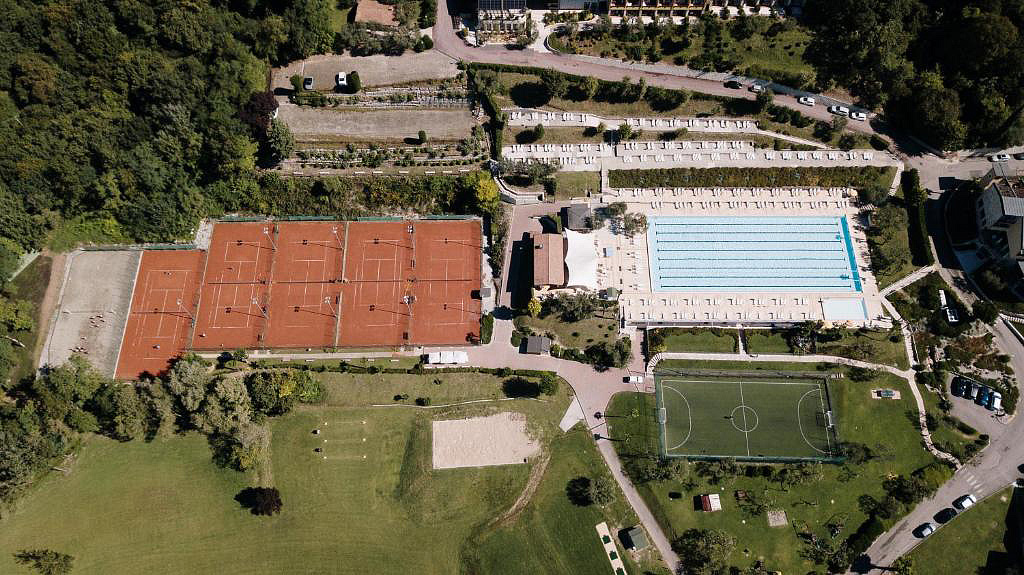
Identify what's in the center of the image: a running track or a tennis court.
tennis court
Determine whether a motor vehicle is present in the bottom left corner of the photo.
No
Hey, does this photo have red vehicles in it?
No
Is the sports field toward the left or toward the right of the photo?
right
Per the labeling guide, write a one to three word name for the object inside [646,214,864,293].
swimming pool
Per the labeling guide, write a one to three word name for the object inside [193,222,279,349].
tennis court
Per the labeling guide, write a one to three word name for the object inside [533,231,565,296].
building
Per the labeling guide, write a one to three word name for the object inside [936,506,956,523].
car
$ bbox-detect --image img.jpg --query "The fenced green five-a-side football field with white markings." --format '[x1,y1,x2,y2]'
[656,375,836,457]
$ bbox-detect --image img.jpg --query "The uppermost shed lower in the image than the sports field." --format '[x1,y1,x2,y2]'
[699,494,722,513]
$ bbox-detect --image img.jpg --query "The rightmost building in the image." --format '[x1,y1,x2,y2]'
[968,158,1024,275]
